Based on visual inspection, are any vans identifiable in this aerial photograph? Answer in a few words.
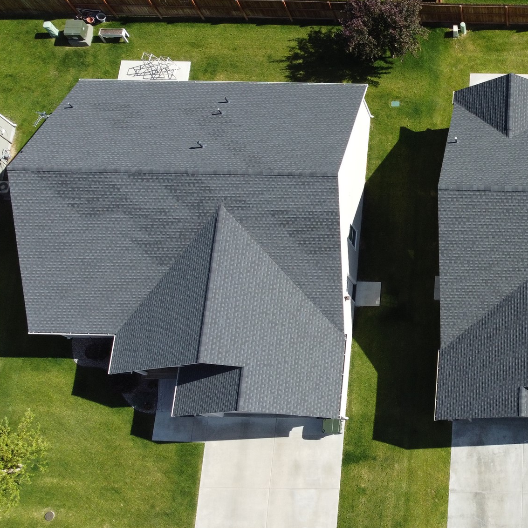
No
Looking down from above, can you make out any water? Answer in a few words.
No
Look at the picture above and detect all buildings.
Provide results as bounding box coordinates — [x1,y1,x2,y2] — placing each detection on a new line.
[0,111,17,181]
[8,77,381,422]
[430,73,528,422]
